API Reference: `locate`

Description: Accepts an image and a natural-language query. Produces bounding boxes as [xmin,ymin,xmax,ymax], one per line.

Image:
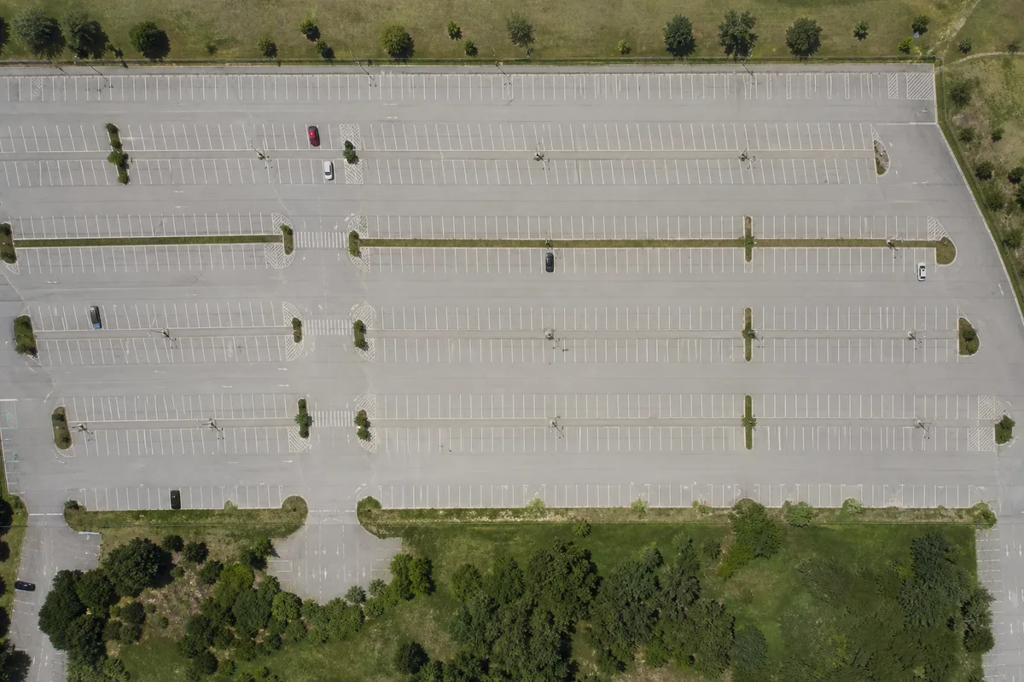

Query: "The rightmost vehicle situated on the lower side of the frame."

[168,490,180,510]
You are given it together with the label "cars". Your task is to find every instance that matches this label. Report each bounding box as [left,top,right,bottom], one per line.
[168,490,180,510]
[308,125,318,145]
[545,251,554,271]
[323,160,333,180]
[14,581,34,592]
[918,263,928,281]
[87,306,101,328]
